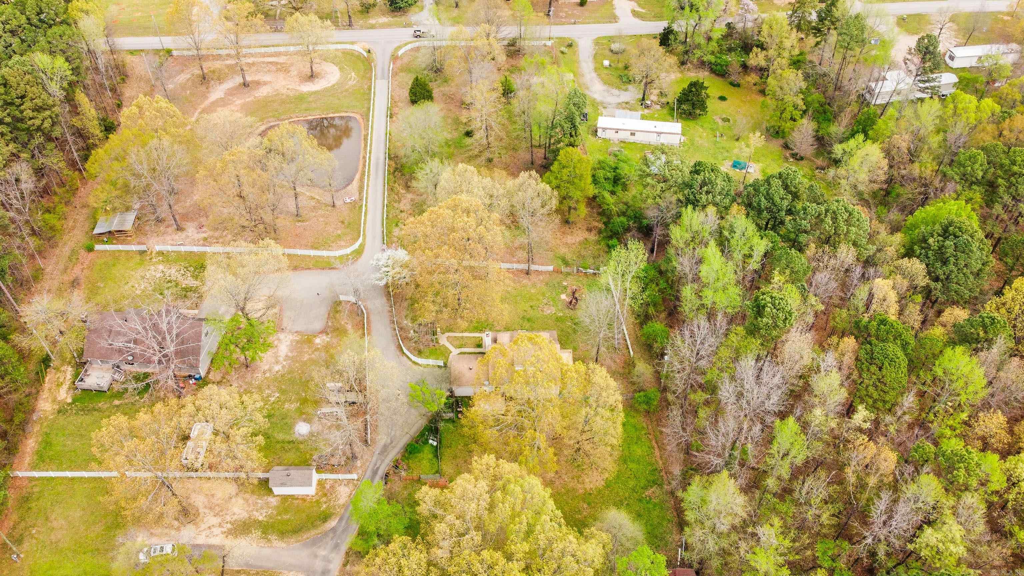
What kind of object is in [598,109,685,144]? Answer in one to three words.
house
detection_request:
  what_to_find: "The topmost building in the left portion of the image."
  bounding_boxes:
[93,210,146,242]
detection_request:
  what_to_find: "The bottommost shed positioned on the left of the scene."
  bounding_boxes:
[268,465,318,494]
